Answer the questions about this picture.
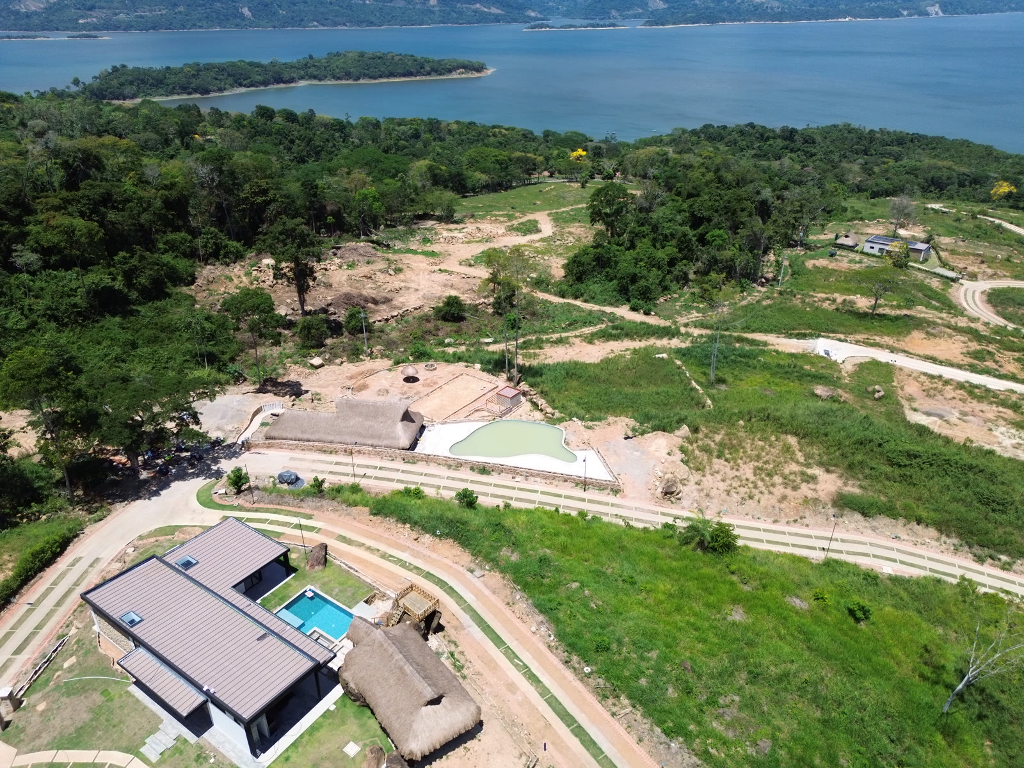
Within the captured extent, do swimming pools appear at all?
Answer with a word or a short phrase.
Yes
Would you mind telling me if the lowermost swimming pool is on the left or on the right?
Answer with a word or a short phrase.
left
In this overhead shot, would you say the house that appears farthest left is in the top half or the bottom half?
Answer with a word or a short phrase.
bottom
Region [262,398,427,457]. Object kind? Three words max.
building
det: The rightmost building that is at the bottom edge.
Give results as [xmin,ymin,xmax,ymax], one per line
[341,605,485,767]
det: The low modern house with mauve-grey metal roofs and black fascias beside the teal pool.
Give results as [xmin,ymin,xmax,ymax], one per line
[80,517,341,768]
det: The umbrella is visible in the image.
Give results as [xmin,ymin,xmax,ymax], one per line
[401,363,419,382]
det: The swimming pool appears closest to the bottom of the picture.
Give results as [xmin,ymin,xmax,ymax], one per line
[271,581,361,645]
